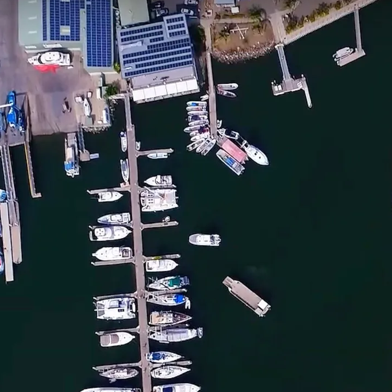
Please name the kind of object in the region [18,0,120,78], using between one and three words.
shed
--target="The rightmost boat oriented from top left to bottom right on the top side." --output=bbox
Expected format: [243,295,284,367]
[238,138,270,165]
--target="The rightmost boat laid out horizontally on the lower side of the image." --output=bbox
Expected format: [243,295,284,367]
[189,234,221,246]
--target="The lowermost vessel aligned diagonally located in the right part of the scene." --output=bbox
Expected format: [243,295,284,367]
[223,277,270,316]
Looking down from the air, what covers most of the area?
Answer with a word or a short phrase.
water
